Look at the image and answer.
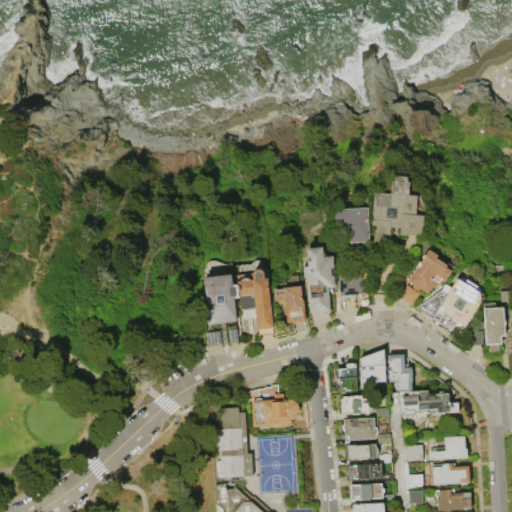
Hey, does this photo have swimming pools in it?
No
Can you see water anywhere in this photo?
Yes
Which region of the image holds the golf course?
bottom left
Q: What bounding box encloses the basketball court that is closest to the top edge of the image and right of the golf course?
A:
[258,436,298,493]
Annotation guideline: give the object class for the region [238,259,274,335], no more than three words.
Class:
house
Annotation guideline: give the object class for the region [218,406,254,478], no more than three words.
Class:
building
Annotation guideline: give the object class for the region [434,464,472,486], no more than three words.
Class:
house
